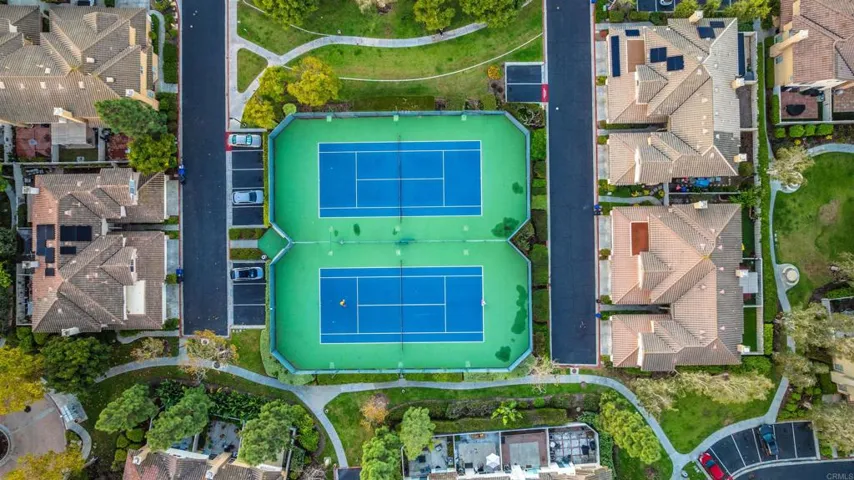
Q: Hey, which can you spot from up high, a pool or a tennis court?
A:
tennis court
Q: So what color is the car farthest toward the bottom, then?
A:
red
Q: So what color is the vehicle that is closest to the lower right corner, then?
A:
blue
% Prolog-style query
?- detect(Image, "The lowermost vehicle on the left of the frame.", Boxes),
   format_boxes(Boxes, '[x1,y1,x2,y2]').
[233,266,265,281]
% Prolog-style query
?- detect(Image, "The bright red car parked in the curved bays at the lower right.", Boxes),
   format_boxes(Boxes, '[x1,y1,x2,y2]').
[701,452,730,480]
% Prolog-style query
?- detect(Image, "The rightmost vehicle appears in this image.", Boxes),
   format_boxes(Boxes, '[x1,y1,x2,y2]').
[756,422,782,459]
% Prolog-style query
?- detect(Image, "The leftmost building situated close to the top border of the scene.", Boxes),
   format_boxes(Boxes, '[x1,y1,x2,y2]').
[0,6,162,146]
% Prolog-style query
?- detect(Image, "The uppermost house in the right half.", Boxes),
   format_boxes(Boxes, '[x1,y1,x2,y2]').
[769,0,854,90]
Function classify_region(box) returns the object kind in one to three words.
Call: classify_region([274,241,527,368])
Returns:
tennis court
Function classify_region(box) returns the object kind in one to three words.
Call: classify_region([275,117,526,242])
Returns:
tennis court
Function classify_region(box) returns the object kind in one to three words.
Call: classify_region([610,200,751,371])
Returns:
house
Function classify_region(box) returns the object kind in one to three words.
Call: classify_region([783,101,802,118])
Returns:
umbrella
